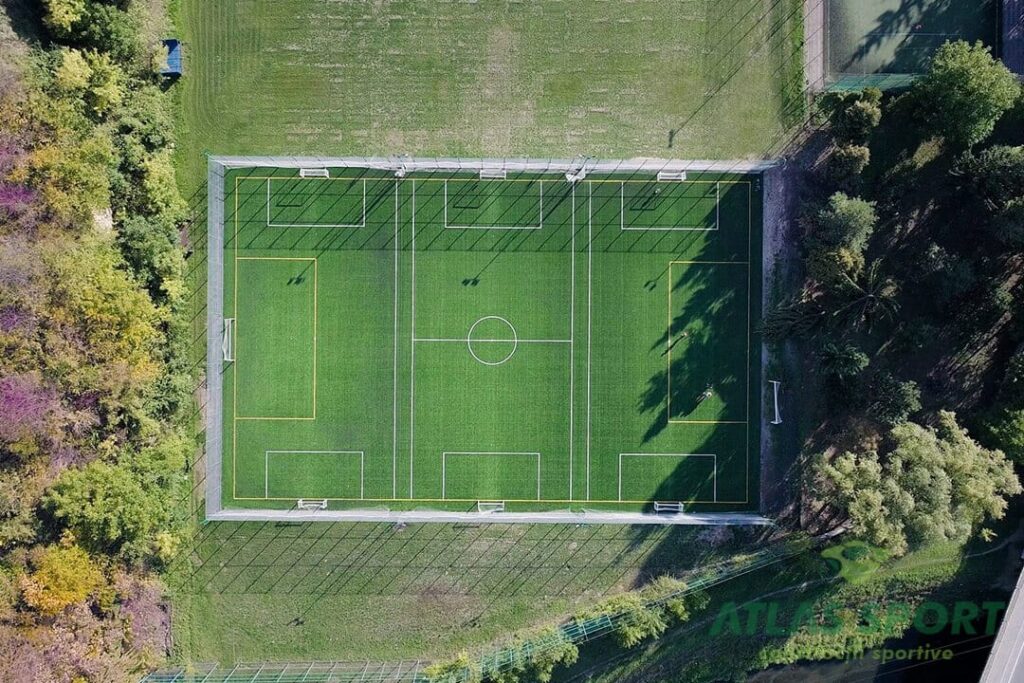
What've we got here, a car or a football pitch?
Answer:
football pitch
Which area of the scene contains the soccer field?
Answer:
center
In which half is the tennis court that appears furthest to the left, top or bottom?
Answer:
top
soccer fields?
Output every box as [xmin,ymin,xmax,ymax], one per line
[205,155,773,525]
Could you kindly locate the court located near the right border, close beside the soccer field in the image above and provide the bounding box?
[823,0,1001,90]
